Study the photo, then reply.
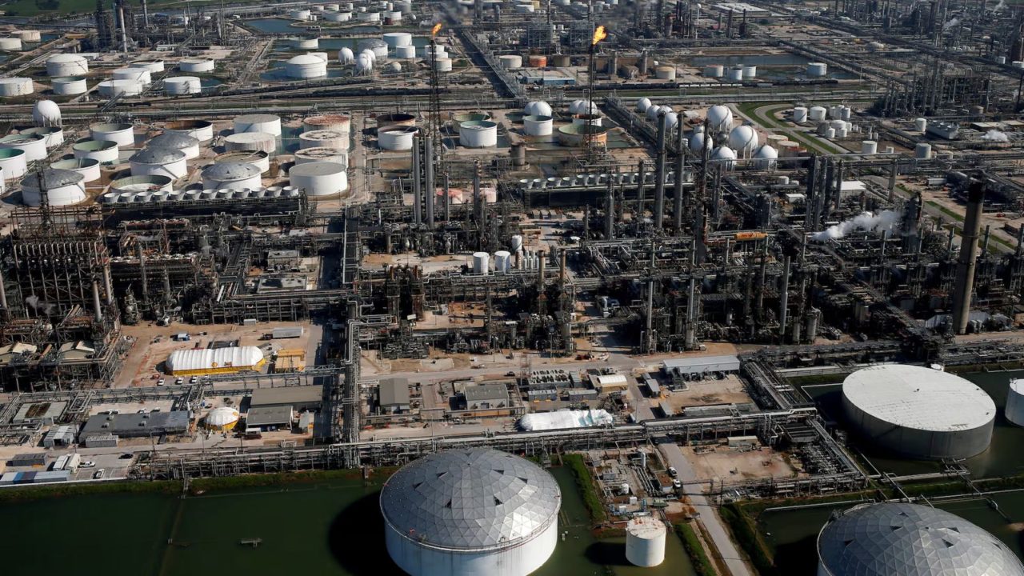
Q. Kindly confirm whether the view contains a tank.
Yes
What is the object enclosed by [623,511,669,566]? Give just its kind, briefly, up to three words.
storage tank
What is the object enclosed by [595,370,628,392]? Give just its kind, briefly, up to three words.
building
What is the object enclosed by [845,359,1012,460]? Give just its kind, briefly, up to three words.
storage tank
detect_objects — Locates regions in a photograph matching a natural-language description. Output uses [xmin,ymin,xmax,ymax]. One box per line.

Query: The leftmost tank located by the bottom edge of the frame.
[377,450,564,576]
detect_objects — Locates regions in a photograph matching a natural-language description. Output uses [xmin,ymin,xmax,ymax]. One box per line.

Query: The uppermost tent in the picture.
[168,346,272,375]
